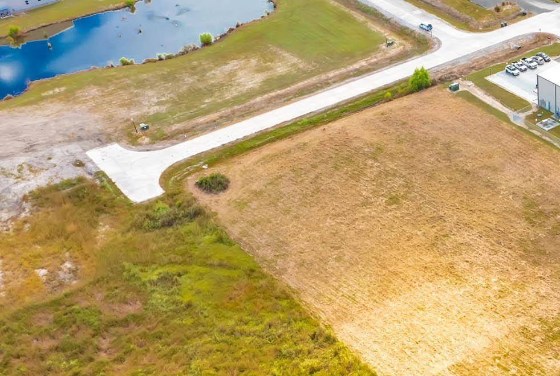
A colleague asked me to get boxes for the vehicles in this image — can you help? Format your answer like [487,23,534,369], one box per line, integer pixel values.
[518,57,539,69]
[510,60,529,73]
[503,63,519,75]
[529,53,545,65]
[536,50,551,62]
[416,21,435,32]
